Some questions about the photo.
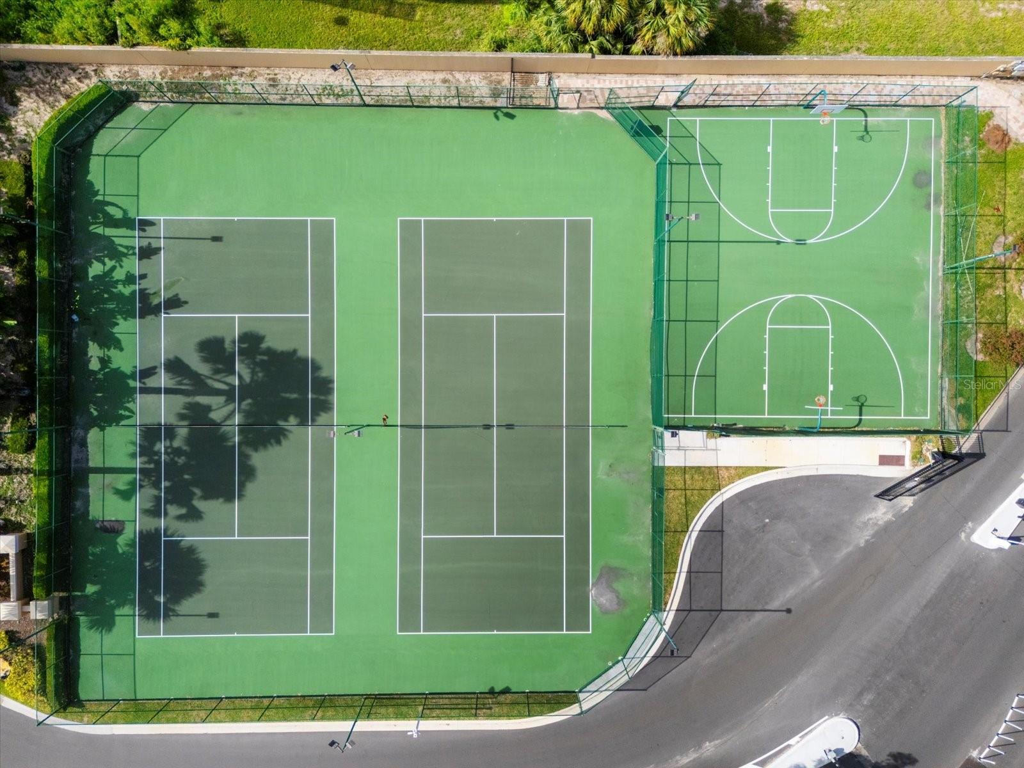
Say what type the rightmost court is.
basketball court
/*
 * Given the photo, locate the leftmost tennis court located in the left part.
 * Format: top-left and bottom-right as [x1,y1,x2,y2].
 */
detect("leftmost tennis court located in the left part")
[136,218,335,637]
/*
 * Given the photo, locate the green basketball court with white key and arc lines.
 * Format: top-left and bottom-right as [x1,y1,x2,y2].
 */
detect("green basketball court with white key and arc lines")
[661,110,938,424]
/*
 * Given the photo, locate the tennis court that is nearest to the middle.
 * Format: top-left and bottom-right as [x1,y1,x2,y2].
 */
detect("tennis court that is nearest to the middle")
[397,218,592,634]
